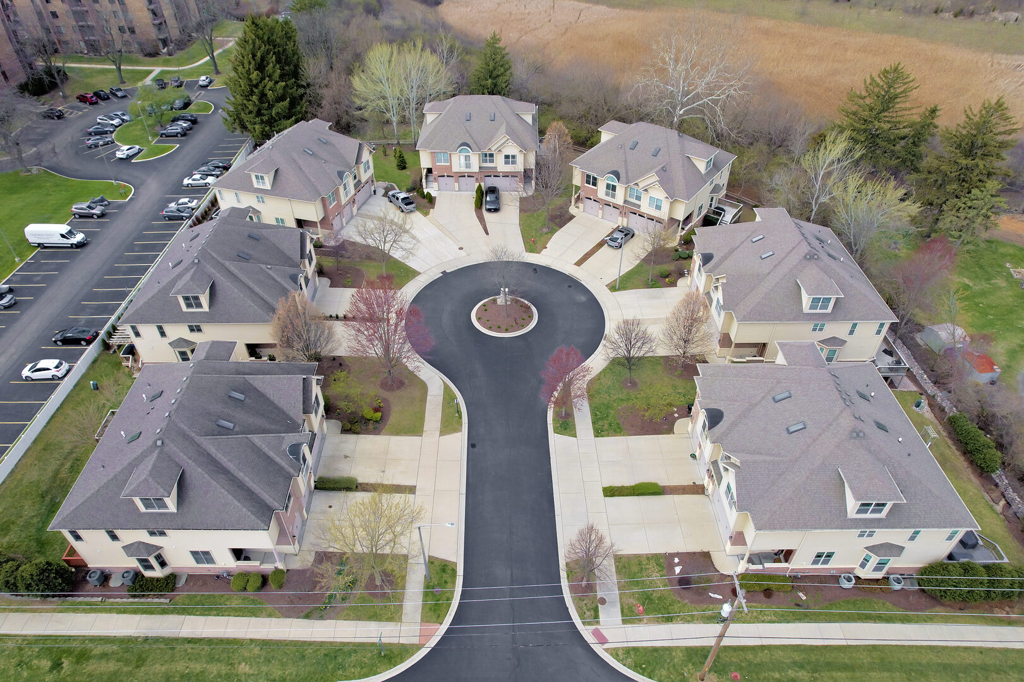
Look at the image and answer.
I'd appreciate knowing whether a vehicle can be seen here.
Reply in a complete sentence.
Yes, you can see a vehicle in this photo.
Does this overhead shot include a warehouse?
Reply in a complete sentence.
No, there appears to be no warehouse in this shot.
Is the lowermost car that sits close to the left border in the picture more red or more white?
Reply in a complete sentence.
The color of the lowermost car that sits close to the left border is white.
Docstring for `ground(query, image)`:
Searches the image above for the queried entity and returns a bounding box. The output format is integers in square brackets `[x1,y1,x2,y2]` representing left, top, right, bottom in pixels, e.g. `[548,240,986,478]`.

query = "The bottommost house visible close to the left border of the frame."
[49,348,335,582]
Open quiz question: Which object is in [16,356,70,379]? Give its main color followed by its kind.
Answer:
white car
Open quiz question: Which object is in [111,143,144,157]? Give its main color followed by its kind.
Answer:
white car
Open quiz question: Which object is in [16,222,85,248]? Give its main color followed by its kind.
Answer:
white vehicle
